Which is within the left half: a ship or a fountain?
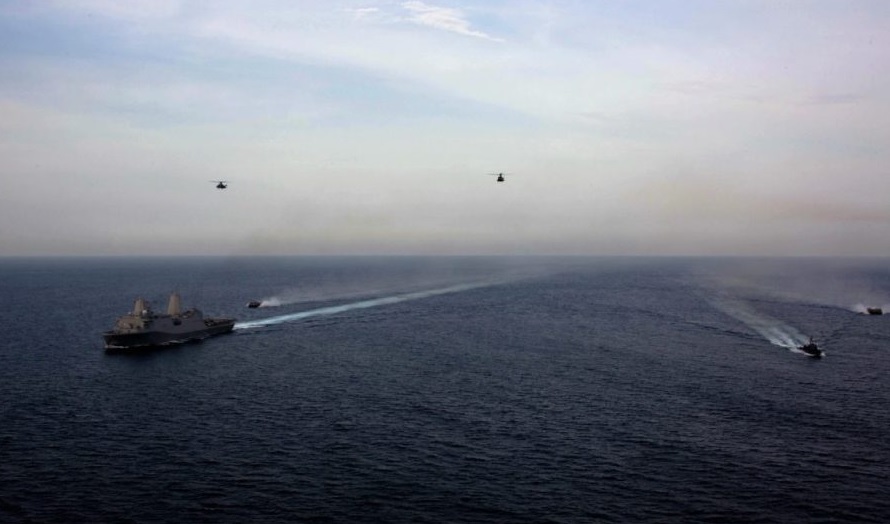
ship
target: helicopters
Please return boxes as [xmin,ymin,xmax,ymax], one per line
[216,182,231,189]
[495,173,512,181]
